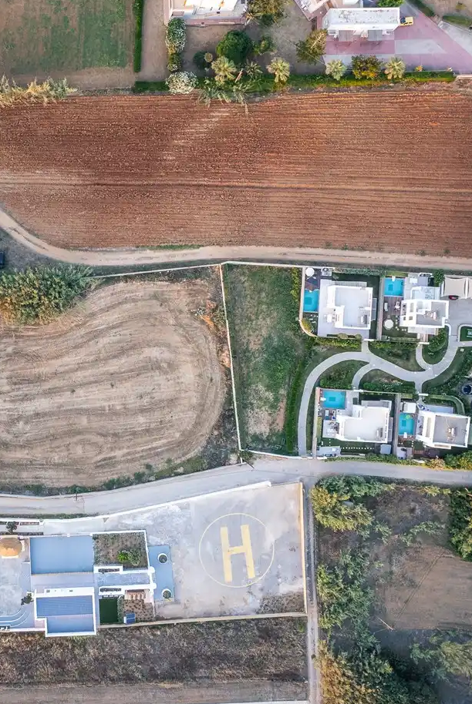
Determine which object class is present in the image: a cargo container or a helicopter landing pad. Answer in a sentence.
Visible in the photo is a helicopter landing pad.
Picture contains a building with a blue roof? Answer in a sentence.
Yes, the image includes a building with a blue roof.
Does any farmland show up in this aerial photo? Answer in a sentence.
Yes, some farmland is visible.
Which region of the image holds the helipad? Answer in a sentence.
You can find the helipad in the bottom area of the picture.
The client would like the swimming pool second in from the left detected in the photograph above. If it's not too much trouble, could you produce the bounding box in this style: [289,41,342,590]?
[321,389,347,411]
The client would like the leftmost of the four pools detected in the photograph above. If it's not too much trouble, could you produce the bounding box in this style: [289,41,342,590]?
[303,287,321,313]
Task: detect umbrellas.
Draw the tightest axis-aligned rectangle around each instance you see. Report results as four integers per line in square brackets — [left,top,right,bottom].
[383,320,394,329]
[305,267,315,277]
